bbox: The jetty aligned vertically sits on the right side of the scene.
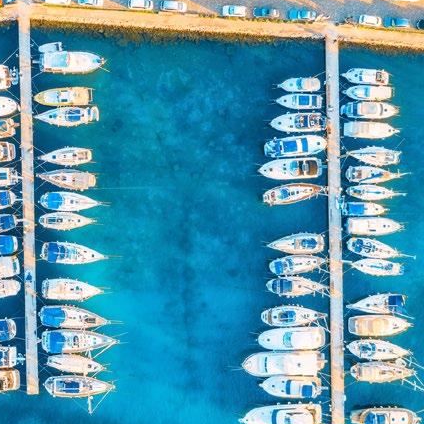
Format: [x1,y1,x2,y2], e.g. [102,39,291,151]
[324,39,345,424]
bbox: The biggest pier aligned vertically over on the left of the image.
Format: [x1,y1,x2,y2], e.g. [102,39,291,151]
[18,18,38,395]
